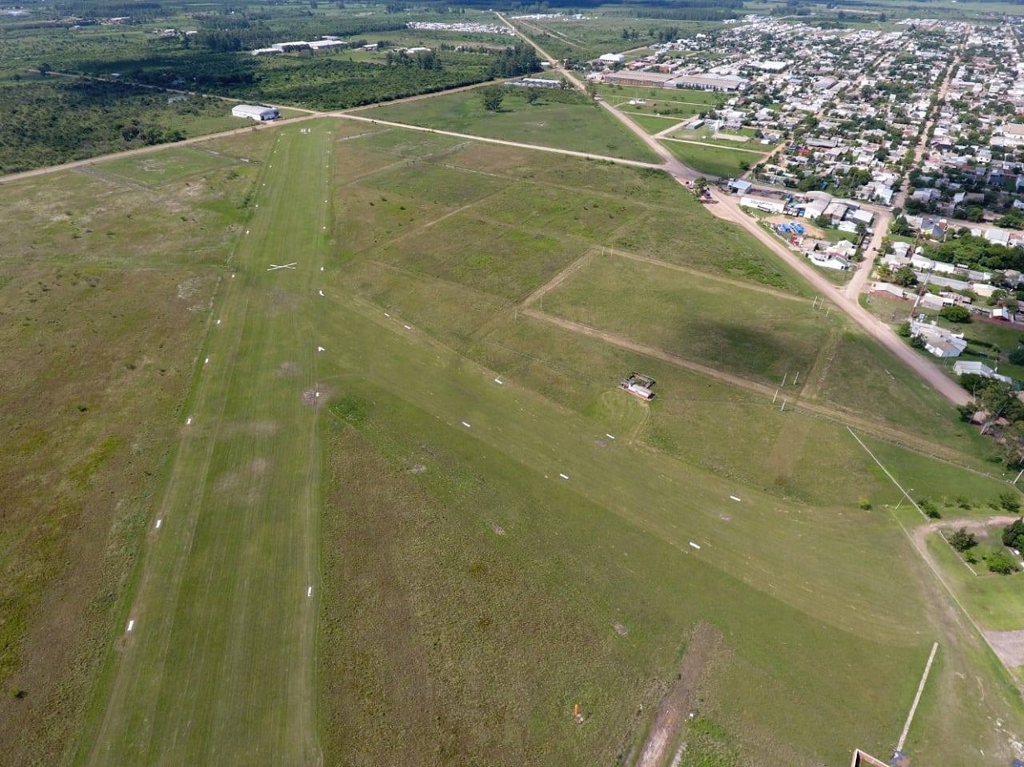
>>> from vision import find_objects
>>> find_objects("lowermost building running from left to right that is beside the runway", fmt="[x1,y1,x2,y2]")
[231,103,275,120]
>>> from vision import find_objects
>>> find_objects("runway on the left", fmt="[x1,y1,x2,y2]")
[65,116,334,767]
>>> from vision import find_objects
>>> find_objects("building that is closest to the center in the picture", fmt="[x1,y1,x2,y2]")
[620,371,660,400]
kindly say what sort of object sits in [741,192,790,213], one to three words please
building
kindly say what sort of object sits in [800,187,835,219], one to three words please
barn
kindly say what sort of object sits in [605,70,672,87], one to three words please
building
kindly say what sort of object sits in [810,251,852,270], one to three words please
house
